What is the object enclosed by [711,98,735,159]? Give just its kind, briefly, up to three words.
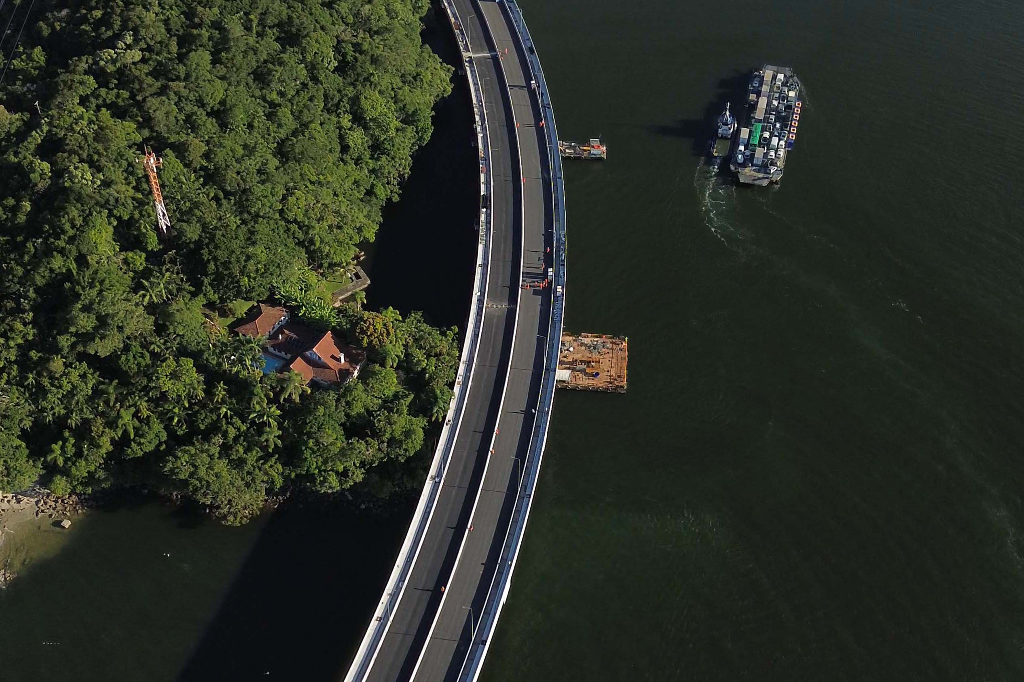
boat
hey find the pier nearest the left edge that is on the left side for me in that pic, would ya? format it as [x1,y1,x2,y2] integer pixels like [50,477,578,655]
[334,266,370,307]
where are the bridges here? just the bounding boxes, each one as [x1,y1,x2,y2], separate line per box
[344,0,568,682]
